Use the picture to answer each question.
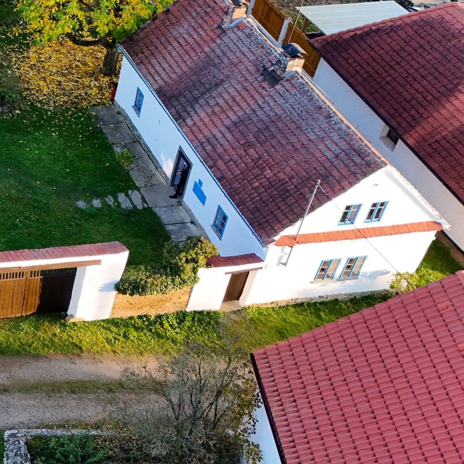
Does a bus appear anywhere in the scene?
No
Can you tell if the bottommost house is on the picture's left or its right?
right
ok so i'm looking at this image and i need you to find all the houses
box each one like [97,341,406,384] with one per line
[112,0,451,309]
[230,268,464,464]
